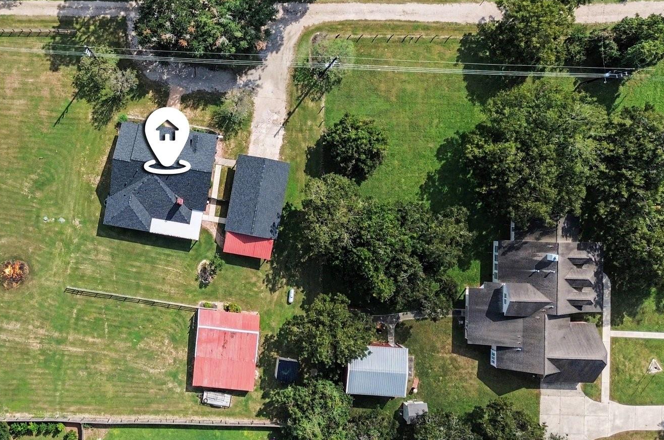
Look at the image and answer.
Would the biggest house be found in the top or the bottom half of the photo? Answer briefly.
bottom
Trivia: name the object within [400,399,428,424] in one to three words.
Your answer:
shed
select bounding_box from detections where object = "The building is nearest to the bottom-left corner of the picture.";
[193,308,260,391]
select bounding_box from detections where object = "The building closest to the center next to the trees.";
[223,155,289,260]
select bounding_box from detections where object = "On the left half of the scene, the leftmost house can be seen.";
[102,122,223,240]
